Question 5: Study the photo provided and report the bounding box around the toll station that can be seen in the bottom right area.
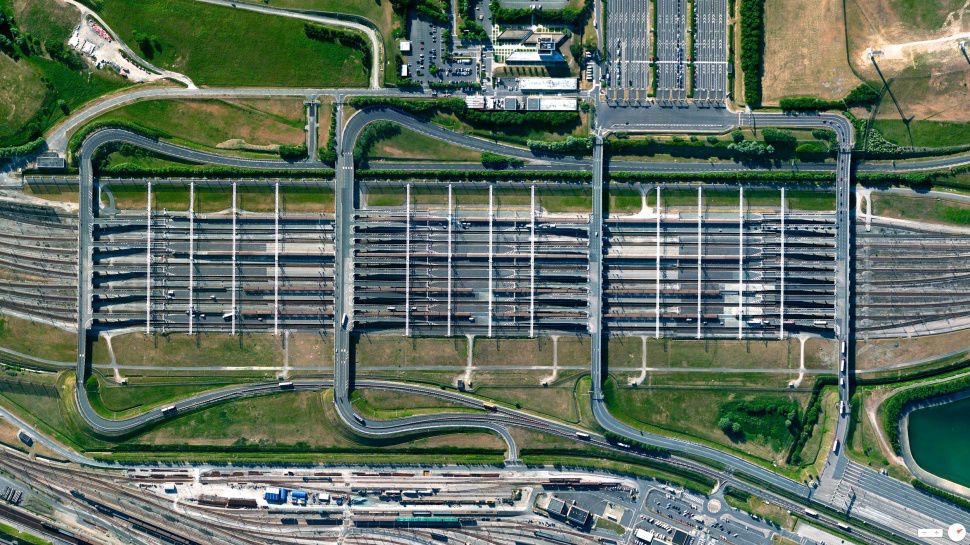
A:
[811,461,970,545]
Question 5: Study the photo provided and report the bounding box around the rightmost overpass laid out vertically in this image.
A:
[835,150,853,414]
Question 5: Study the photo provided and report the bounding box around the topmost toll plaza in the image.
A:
[604,0,728,98]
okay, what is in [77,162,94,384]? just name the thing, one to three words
overpass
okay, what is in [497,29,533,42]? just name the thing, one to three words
building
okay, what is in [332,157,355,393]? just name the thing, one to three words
overpass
